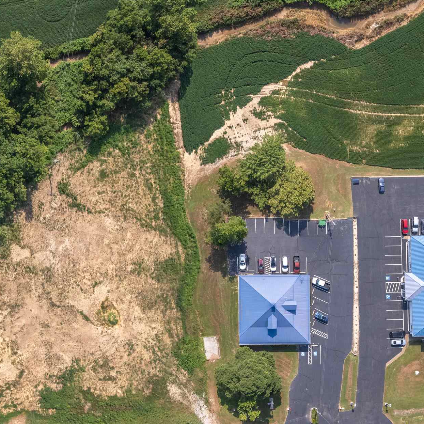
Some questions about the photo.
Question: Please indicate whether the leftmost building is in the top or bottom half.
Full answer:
Seen from above, the leftmost building lies in the bottom half of the view.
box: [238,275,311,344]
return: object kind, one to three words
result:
building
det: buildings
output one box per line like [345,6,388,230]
[401,235,424,341]
[238,275,311,344]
